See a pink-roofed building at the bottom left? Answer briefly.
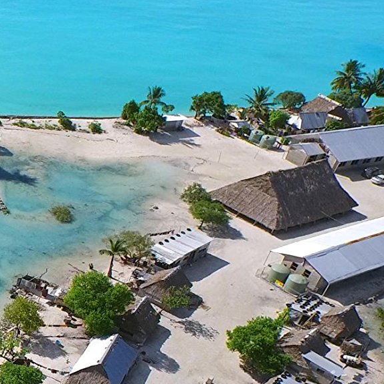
No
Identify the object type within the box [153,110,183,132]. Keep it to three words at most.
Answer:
building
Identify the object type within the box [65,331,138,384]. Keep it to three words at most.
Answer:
house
